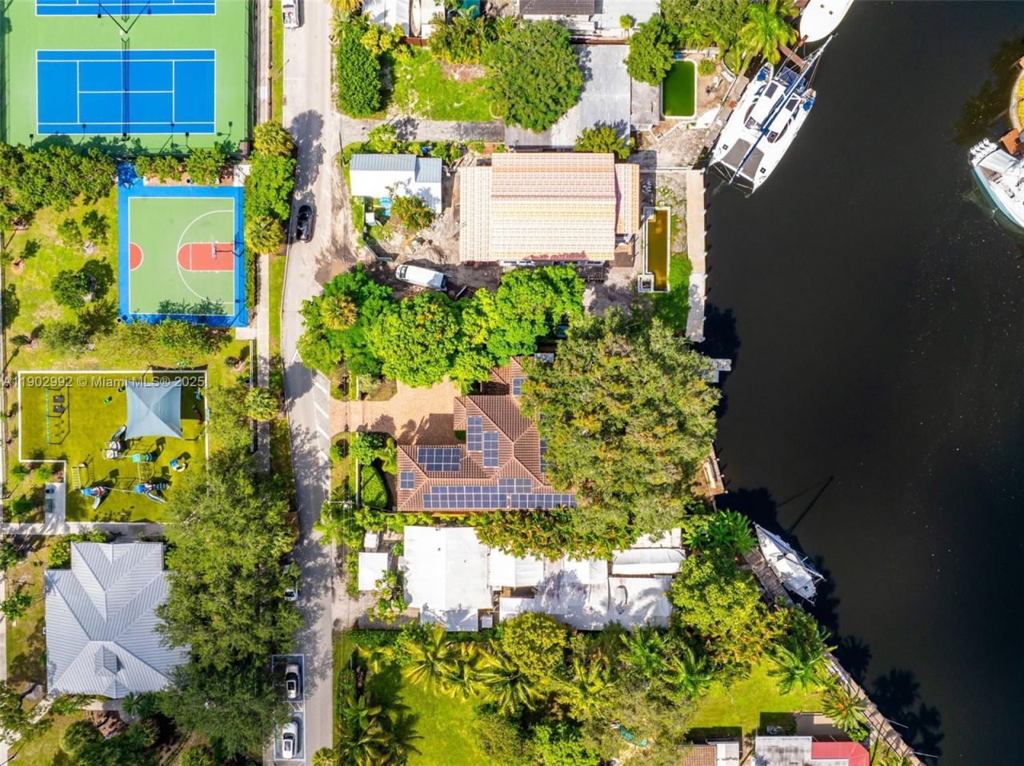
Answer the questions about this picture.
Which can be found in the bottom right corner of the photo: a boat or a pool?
boat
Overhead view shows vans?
Yes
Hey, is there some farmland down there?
No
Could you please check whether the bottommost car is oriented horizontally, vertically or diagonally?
vertically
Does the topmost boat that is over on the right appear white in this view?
Yes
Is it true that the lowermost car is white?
Yes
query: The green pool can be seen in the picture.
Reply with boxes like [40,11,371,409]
[661,58,697,119]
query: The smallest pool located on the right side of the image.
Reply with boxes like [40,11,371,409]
[638,274,654,292]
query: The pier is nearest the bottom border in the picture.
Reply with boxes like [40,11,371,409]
[820,653,924,766]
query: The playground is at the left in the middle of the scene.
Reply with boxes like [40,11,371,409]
[20,373,205,522]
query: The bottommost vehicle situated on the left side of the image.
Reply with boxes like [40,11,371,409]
[278,722,298,761]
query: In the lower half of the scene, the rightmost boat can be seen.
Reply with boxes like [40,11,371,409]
[756,524,826,605]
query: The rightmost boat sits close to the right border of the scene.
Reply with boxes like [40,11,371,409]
[971,134,1024,224]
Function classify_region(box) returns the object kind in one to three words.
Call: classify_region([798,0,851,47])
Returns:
boat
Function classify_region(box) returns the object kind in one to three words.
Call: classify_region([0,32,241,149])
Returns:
tennis court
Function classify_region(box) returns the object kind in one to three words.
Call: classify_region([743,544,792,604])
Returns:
pier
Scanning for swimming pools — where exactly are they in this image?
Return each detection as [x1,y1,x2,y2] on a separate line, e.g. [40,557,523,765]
[661,58,697,119]
[638,274,654,292]
[643,205,671,291]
